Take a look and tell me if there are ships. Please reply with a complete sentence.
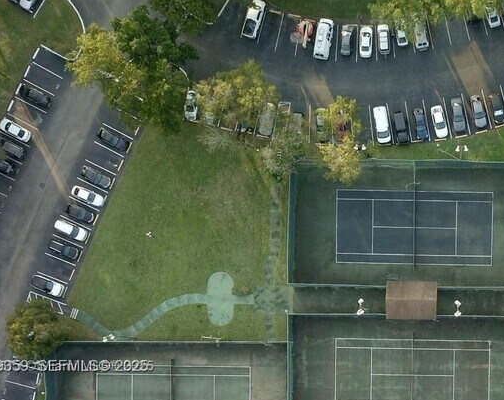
No, no ship is visible in the scene.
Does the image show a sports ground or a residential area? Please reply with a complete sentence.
What you see here is a sports ground.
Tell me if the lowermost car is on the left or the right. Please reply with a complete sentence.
It is on the left.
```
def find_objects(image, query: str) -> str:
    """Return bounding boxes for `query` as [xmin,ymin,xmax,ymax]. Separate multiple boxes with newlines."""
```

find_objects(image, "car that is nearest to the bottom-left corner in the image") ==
[32,276,65,296]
